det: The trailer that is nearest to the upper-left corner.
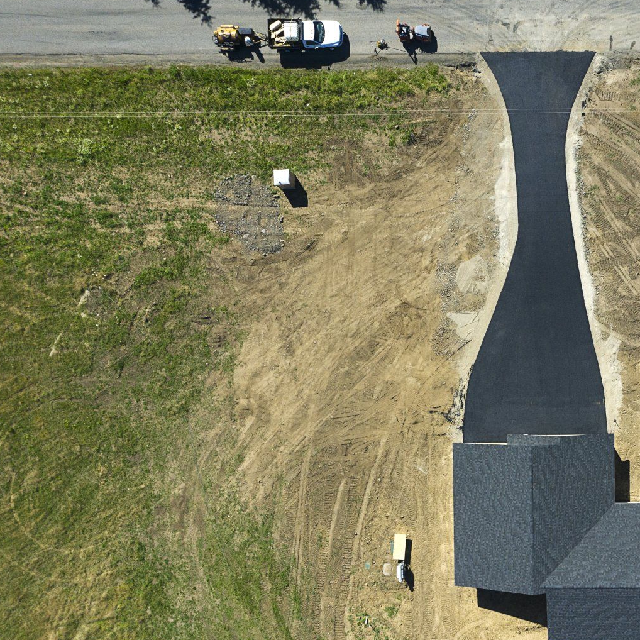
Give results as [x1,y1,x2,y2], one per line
[215,26,266,54]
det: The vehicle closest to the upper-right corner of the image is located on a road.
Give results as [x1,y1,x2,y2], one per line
[398,21,435,48]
